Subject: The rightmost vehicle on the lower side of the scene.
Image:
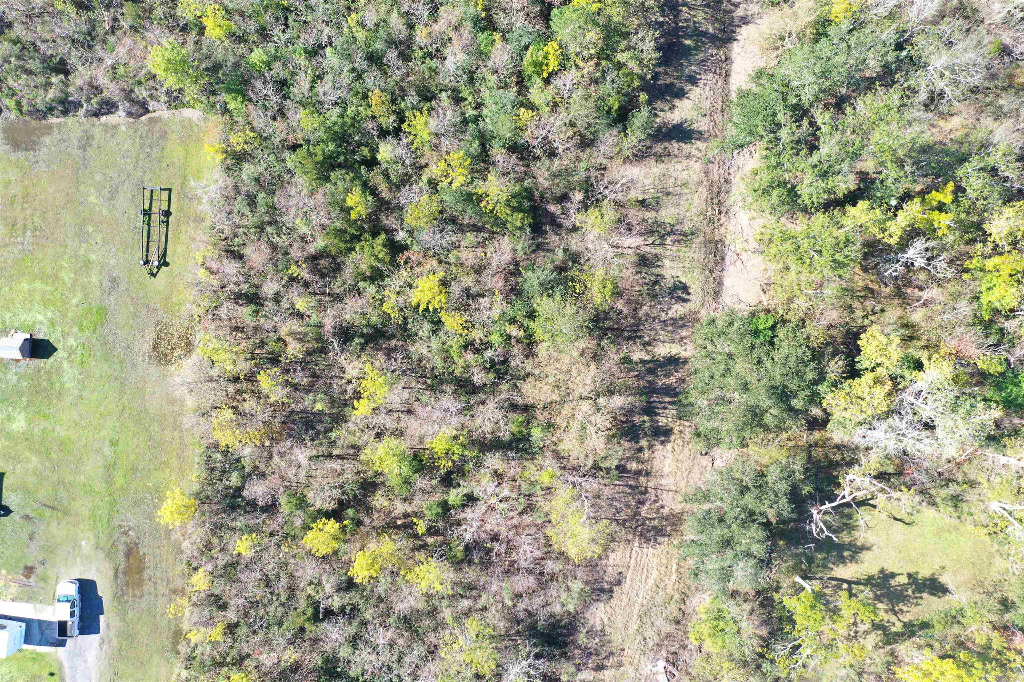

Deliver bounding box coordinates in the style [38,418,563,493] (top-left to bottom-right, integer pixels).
[53,577,83,638]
